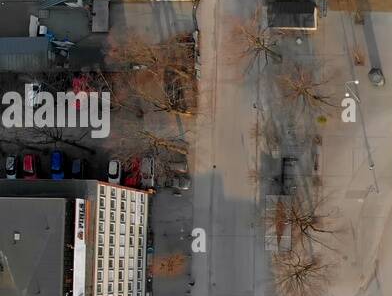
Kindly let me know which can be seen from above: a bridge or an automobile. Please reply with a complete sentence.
I can see an automobile in this picture.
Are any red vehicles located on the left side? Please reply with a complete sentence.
Yes, I can see a red vehicle on the left side.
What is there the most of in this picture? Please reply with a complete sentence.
Most of the picture is covered by paved ground.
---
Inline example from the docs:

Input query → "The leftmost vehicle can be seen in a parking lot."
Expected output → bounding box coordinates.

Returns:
[1,152,17,181]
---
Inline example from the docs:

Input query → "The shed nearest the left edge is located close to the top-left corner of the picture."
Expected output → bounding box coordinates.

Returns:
[0,34,46,71]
